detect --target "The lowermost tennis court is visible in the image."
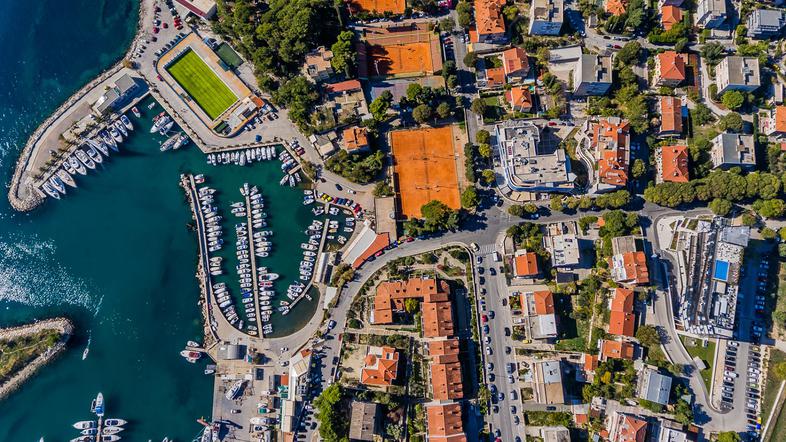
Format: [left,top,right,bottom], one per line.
[399,180,461,217]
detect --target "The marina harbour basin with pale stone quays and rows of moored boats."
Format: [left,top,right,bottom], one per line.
[8,0,374,442]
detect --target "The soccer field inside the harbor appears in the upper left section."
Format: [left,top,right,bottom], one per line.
[155,31,256,137]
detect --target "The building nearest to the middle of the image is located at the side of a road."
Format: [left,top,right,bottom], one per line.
[375,196,397,238]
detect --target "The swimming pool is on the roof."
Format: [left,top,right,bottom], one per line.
[712,259,731,282]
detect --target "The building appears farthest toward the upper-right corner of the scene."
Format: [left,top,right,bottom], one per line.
[749,8,783,36]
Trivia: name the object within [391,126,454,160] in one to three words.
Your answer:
tennis court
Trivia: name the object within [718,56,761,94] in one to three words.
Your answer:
building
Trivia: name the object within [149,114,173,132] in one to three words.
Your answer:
boat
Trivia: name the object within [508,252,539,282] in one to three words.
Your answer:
house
